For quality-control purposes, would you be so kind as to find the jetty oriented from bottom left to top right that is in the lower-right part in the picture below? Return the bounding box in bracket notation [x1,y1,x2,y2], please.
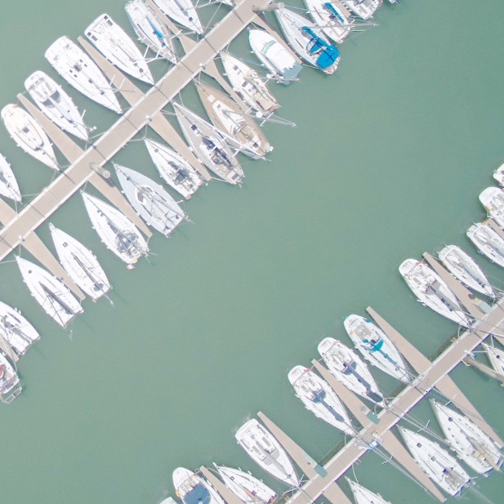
[282,297,504,504]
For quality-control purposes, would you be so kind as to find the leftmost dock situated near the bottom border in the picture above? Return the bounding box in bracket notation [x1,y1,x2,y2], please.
[200,464,244,504]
